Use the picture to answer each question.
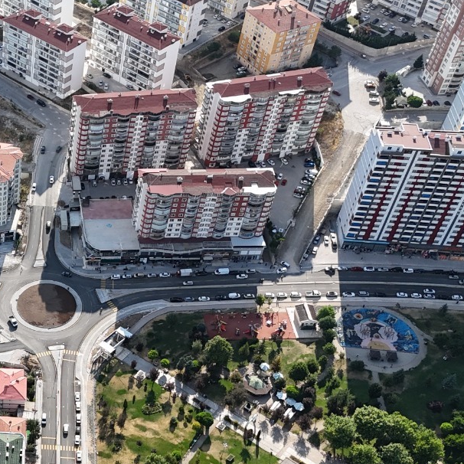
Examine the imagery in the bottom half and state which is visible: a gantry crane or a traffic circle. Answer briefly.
traffic circle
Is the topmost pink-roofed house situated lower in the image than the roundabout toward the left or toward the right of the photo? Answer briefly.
left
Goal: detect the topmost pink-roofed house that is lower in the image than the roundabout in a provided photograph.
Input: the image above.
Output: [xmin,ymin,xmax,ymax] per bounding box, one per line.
[0,370,28,411]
